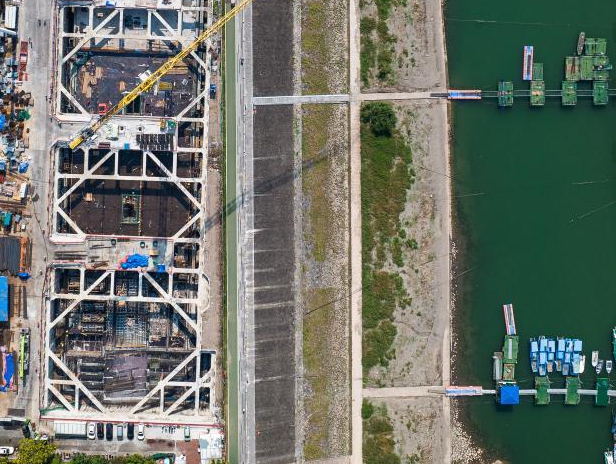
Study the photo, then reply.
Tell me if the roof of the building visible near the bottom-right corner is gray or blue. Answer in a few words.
blue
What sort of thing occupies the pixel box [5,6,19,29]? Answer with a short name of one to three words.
shed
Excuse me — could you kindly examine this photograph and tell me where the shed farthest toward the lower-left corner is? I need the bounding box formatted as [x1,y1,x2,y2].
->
[55,418,88,437]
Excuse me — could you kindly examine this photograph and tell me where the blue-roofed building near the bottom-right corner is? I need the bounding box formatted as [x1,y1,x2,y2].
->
[498,385,519,406]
